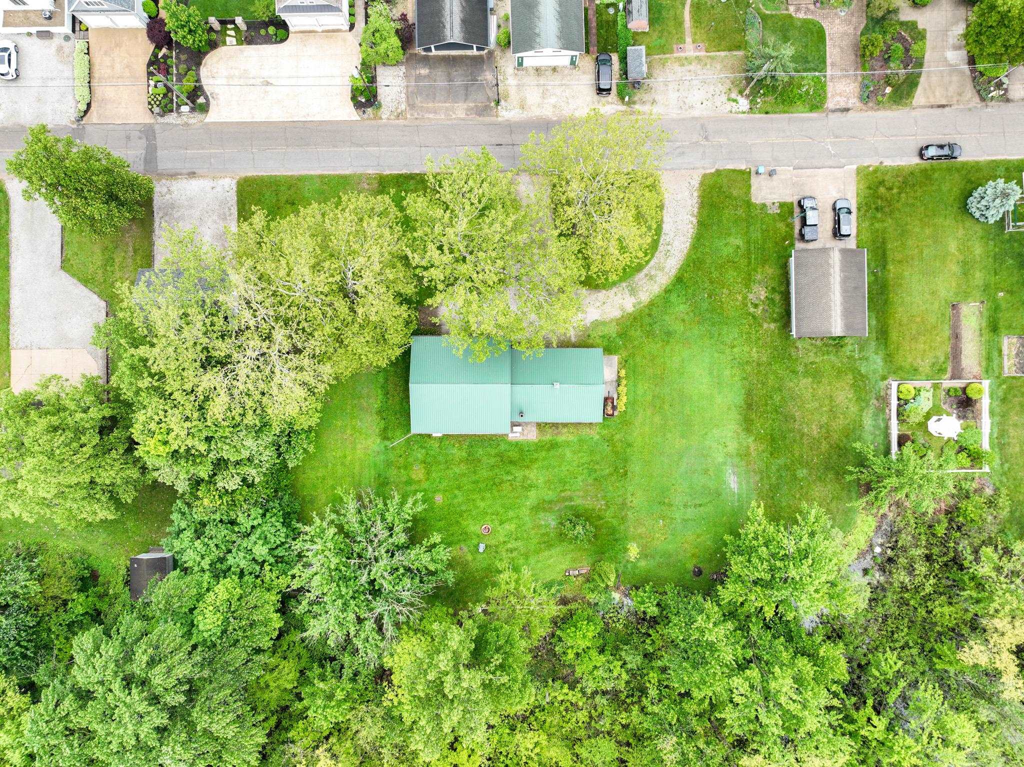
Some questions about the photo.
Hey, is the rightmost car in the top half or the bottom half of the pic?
top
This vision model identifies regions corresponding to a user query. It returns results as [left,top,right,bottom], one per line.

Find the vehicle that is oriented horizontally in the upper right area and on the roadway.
[922,139,965,161]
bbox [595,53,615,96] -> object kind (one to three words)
car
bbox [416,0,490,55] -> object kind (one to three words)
building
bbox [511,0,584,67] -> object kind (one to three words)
building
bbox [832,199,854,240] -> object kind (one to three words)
car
